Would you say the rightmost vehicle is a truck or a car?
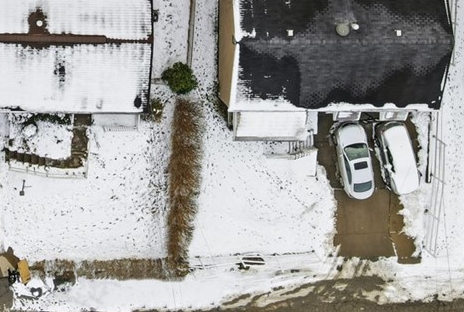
car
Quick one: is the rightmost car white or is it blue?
white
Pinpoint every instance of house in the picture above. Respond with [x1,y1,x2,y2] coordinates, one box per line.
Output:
[220,0,458,161]
[0,0,156,131]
